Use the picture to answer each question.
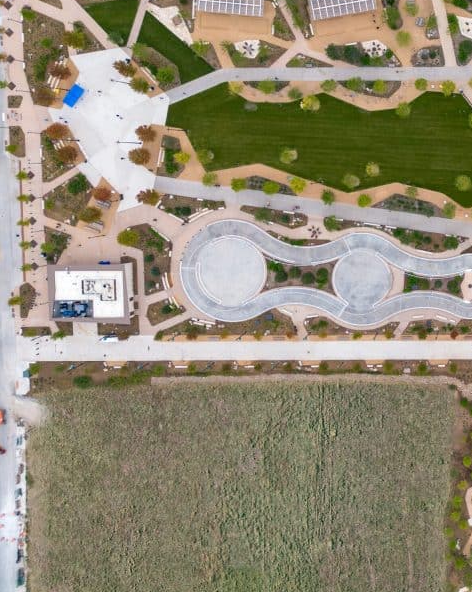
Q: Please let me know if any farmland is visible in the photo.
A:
Yes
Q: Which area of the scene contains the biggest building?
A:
left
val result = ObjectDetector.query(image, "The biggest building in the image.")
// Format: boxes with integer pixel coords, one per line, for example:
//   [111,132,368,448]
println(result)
[47,262,138,324]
